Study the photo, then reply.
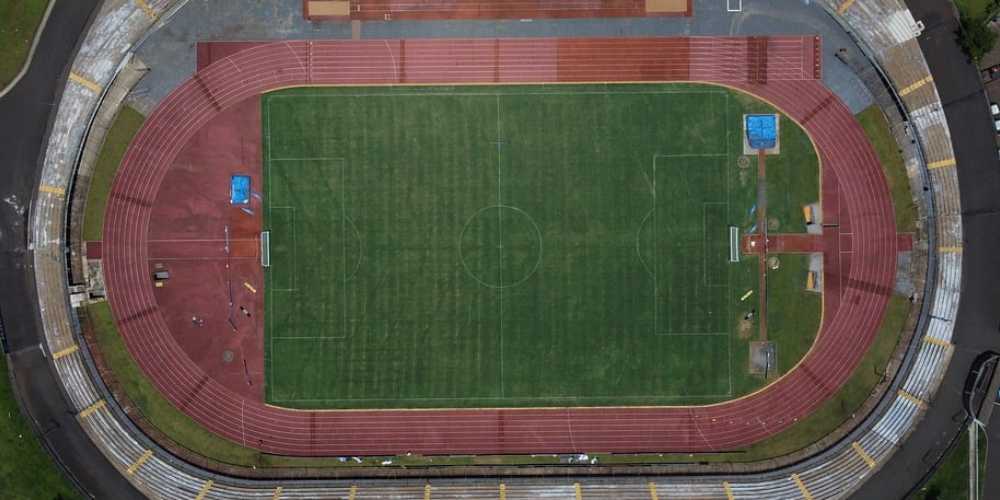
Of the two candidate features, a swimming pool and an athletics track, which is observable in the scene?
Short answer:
athletics track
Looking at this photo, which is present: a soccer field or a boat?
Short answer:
soccer field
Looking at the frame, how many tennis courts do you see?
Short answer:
zero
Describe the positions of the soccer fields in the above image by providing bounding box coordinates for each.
[262,82,823,409]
